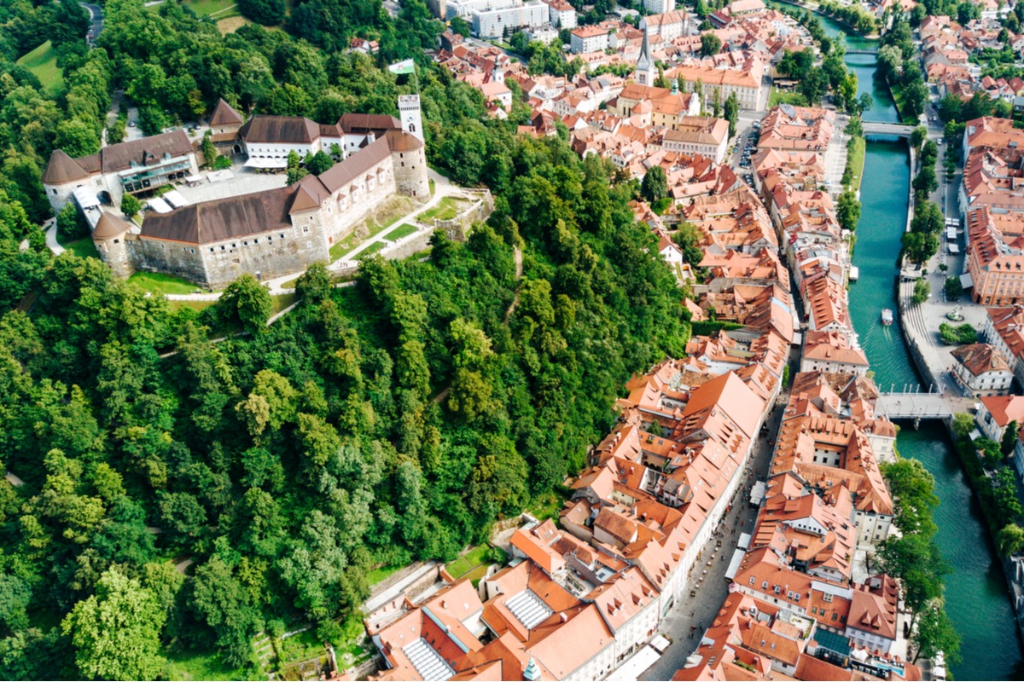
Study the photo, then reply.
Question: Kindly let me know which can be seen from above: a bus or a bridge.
bridge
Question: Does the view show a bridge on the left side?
No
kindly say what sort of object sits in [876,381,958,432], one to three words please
bridge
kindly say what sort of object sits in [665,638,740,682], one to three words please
house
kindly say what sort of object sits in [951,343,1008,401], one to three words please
house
